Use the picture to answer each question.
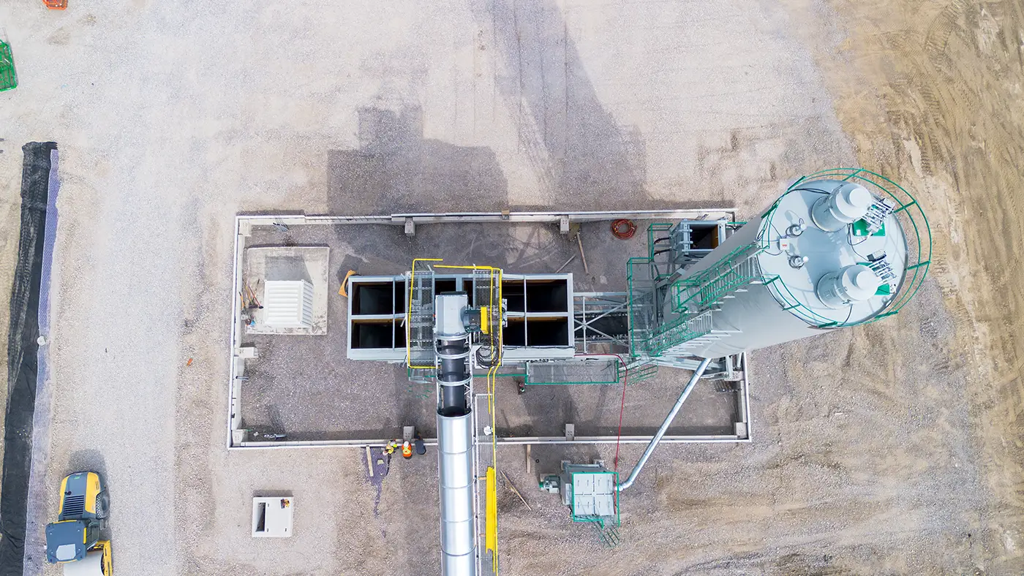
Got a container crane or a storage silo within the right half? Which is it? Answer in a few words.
storage silo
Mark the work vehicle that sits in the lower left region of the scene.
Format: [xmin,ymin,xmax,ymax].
[42,465,117,576]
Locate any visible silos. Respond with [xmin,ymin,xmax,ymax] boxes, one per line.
[624,169,929,381]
